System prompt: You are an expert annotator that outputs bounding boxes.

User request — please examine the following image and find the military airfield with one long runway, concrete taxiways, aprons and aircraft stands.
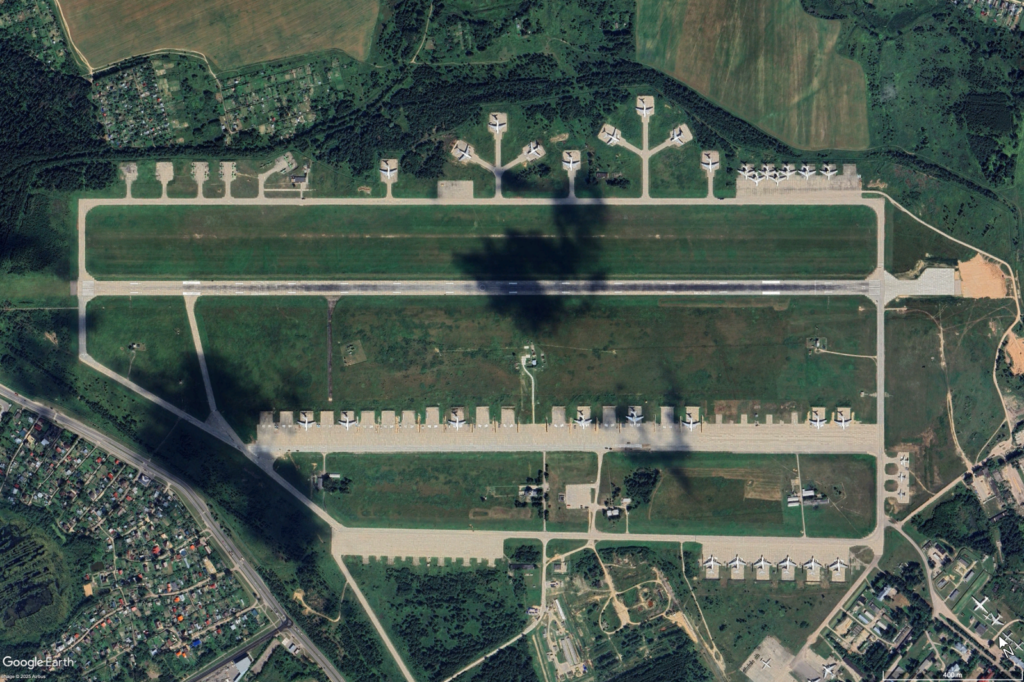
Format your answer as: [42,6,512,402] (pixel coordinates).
[70,96,961,682]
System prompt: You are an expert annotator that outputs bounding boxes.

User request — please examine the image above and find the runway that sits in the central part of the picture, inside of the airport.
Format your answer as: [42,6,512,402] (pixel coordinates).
[77,281,884,295]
